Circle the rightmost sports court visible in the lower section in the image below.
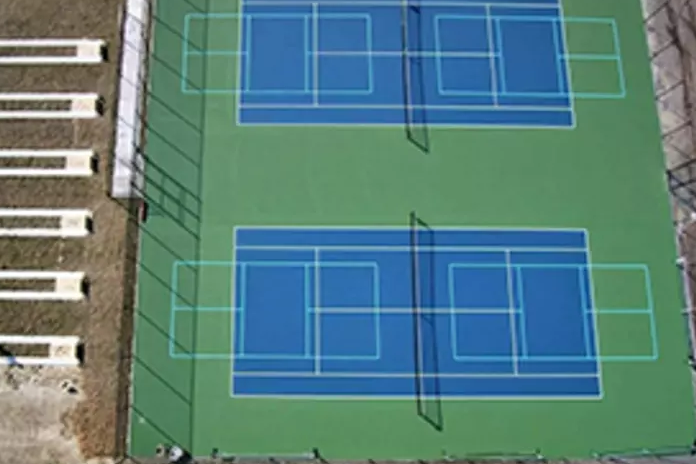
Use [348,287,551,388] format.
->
[448,264,660,359]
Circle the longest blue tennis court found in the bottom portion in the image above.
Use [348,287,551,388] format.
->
[232,227,604,398]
